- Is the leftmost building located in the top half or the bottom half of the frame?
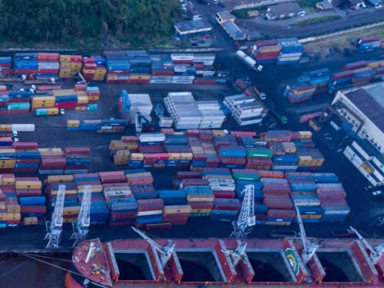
top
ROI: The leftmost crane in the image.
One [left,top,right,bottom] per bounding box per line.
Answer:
[42,185,63,249]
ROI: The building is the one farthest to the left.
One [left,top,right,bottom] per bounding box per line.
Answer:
[175,19,215,39]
